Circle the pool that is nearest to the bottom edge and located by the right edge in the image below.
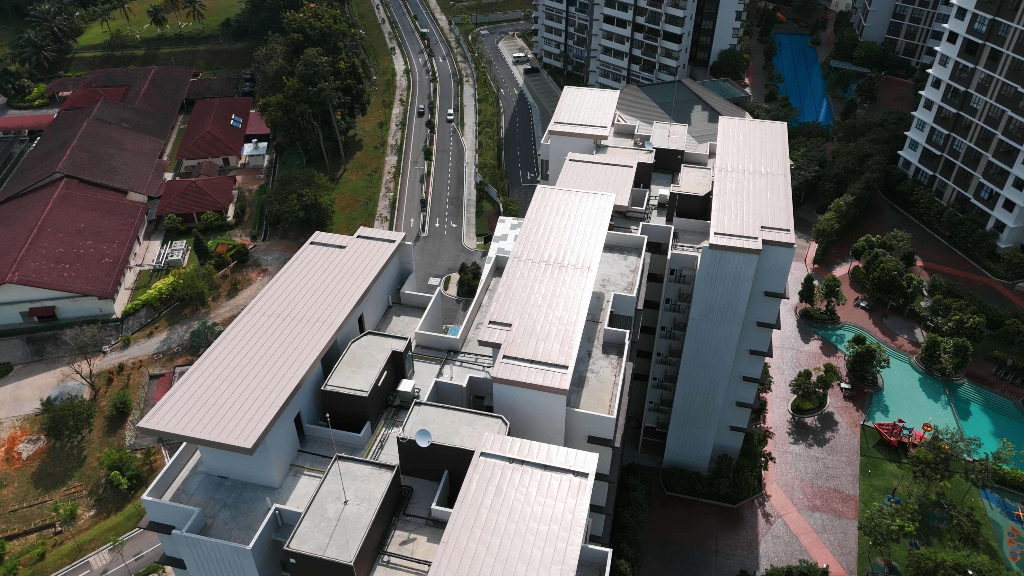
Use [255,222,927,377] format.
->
[816,325,1024,468]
